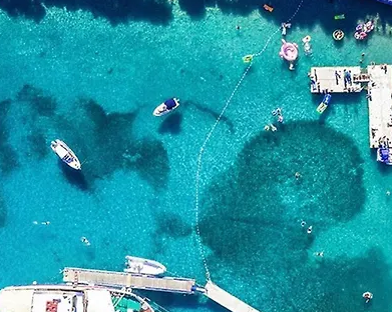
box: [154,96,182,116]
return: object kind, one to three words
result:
boat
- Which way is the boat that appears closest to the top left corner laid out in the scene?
diagonally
